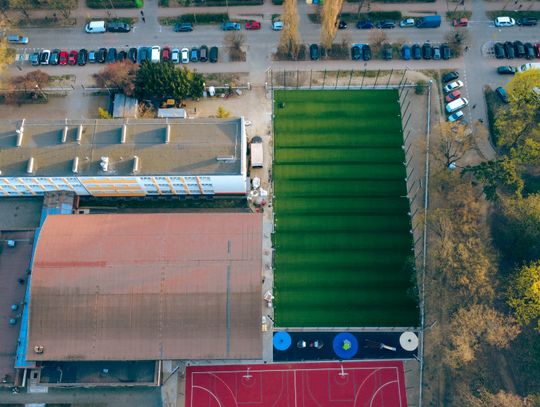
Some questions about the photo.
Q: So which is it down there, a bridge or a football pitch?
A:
football pitch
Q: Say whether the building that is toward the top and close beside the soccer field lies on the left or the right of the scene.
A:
left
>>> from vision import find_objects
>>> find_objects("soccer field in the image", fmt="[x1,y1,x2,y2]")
[271,85,420,332]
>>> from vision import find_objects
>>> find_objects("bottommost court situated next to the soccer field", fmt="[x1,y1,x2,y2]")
[186,360,411,407]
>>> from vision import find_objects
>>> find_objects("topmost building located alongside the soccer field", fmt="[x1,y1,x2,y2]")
[0,113,248,195]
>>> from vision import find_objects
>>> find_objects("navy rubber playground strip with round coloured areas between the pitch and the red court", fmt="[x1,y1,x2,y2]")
[273,331,421,361]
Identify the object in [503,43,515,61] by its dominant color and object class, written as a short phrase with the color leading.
black vehicle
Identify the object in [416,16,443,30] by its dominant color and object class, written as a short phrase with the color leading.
blue vehicle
